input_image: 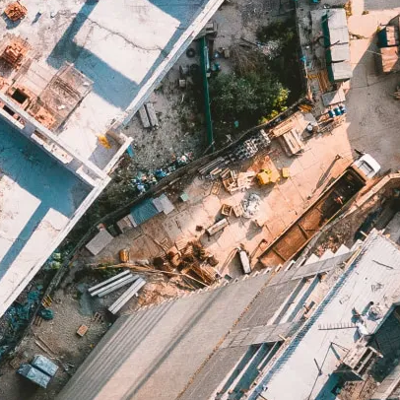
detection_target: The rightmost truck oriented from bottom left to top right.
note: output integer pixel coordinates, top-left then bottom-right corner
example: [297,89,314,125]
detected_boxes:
[267,136,400,254]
